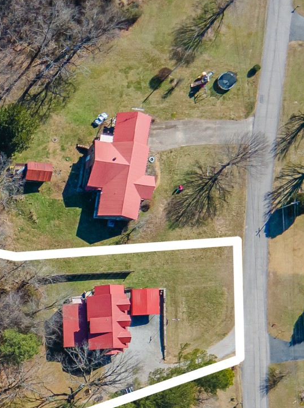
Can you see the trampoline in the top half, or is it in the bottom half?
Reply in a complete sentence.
You can find the trampoline in the top half.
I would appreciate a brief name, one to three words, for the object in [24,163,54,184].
shed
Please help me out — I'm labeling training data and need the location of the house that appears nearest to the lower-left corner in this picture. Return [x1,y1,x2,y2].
[59,285,131,355]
